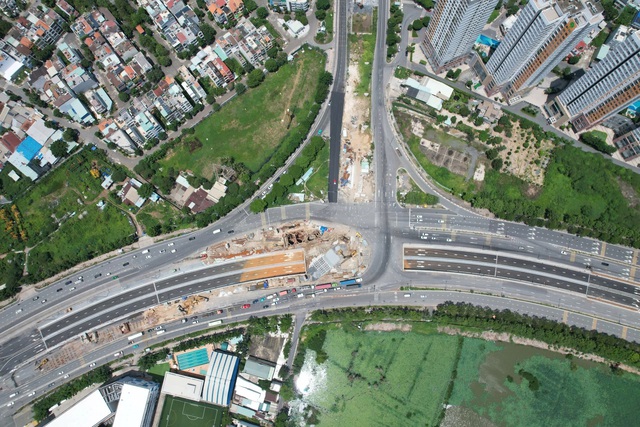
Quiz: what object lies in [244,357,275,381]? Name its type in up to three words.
building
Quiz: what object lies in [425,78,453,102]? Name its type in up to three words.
building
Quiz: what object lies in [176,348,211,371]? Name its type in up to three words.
swimming pool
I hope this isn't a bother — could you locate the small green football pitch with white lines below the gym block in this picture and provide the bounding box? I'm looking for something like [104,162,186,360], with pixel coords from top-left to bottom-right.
[159,396,232,427]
